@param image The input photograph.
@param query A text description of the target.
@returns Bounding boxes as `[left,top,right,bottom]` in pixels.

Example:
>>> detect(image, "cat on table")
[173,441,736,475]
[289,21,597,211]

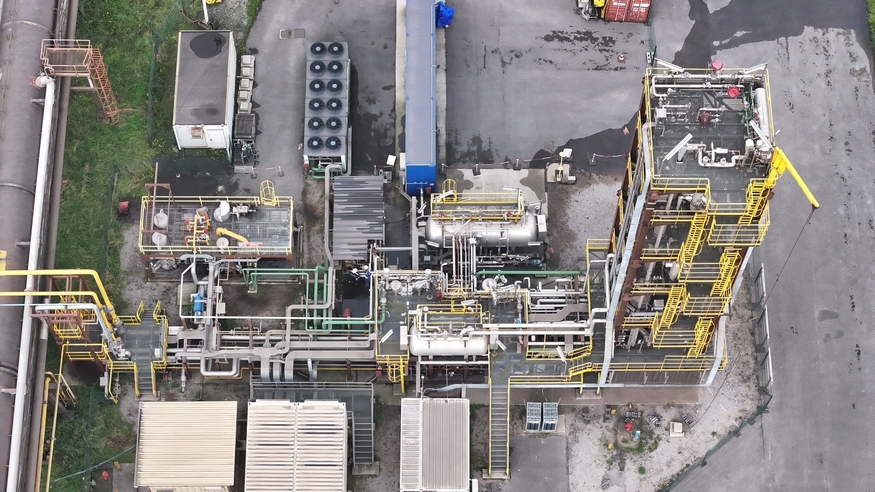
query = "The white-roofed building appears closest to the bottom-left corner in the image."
[131,400,238,492]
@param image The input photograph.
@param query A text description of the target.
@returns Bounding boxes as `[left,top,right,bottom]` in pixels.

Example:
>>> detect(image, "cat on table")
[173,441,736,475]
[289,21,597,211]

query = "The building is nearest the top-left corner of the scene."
[174,30,233,148]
